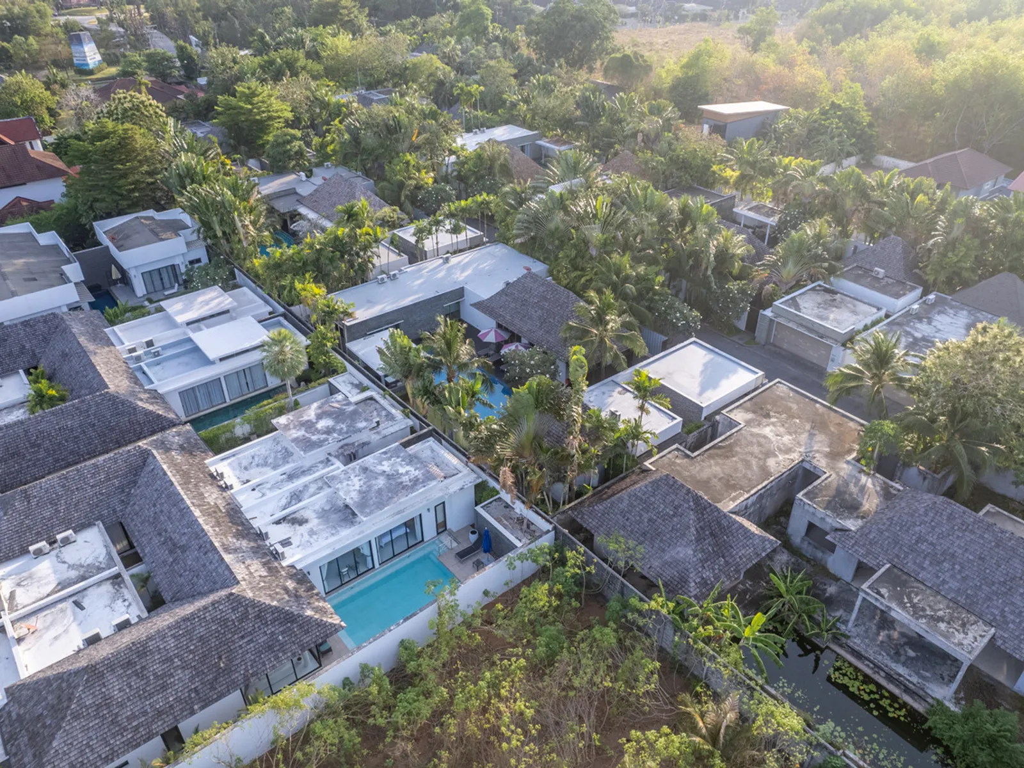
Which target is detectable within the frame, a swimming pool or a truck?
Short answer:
swimming pool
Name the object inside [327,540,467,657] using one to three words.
swimming pool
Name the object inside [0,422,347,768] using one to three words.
house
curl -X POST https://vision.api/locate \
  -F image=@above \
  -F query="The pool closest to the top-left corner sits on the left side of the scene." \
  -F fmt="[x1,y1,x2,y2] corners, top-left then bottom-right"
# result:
[80,290,134,325]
